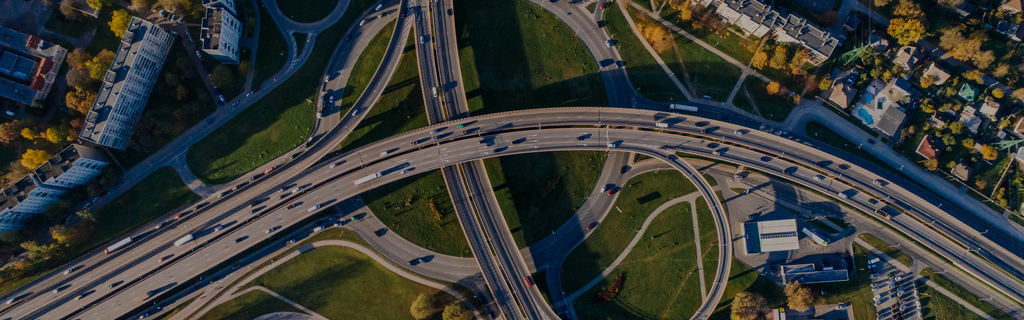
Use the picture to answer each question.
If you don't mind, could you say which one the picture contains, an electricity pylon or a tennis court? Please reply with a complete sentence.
Looking from above, you can make out an electricity pylon.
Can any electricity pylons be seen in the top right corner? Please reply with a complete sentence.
Yes, there is an electricity pylon in the top right corner.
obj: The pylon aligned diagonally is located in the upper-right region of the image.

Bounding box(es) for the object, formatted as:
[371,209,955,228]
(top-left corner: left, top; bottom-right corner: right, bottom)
[837,43,871,67]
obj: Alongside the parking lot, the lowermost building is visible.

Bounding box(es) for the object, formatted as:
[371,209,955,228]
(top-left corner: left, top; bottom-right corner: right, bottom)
[779,264,848,283]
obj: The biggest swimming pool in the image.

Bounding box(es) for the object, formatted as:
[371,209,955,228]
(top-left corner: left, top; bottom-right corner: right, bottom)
[857,107,874,126]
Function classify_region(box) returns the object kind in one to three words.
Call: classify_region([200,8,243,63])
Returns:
building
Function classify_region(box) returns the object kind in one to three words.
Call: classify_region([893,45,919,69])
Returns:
house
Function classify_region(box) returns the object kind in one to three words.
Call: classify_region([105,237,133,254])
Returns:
vehicle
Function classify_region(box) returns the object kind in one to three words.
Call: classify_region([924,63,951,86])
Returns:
house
